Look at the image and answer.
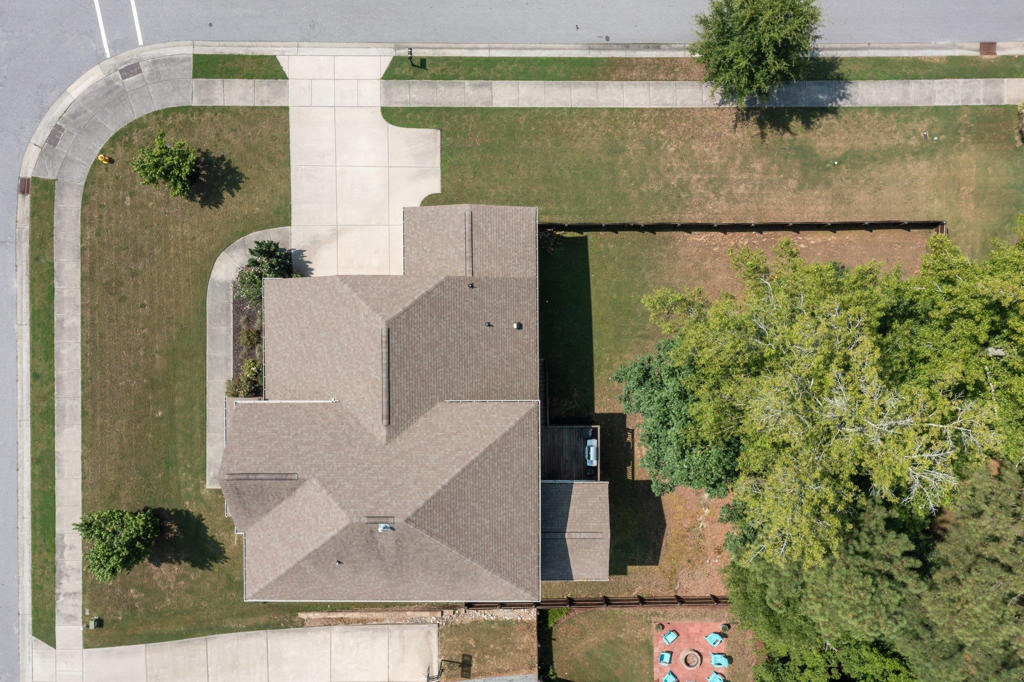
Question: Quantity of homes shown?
one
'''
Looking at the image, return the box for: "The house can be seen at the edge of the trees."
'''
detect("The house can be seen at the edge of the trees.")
[218,202,610,604]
